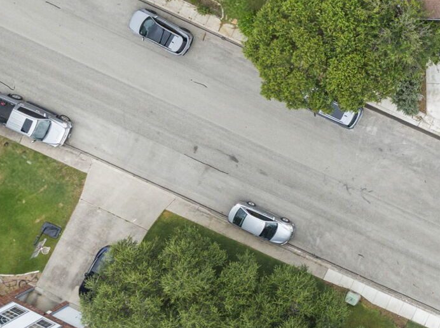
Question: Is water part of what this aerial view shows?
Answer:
No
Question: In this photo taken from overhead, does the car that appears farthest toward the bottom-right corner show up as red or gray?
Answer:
gray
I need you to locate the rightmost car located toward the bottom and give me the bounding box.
[228,199,293,243]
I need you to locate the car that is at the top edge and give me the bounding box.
[130,8,194,54]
